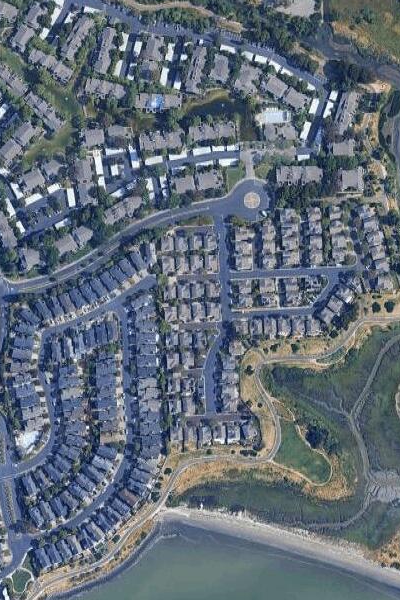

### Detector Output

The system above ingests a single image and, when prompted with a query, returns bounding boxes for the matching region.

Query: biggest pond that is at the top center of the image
[184,87,259,144]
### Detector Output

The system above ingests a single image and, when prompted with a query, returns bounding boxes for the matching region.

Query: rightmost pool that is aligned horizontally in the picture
[255,107,290,124]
